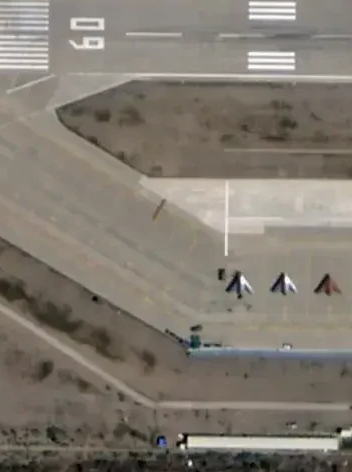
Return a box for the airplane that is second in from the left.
[274,272,297,296]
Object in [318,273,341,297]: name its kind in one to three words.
airplane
